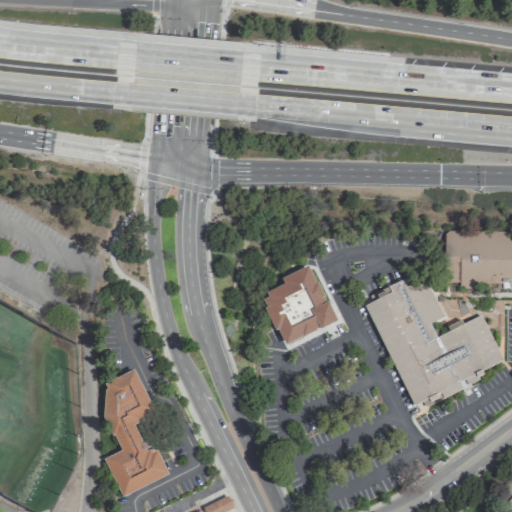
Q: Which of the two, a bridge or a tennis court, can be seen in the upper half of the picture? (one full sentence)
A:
It is a bridge that can be seen in the upper half of the picture.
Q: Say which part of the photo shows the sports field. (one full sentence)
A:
The sports field sits in the bottom left section of the image.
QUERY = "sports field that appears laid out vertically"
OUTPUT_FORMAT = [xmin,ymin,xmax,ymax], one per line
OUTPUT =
[0,302,80,512]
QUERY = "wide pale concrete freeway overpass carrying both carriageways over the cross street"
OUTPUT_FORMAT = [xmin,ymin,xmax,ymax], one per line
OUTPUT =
[113,31,260,120]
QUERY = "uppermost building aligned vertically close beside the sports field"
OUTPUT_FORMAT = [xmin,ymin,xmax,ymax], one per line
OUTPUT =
[105,370,169,496]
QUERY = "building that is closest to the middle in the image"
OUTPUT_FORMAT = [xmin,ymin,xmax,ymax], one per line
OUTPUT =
[266,266,339,344]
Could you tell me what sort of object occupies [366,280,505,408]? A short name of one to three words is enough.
building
